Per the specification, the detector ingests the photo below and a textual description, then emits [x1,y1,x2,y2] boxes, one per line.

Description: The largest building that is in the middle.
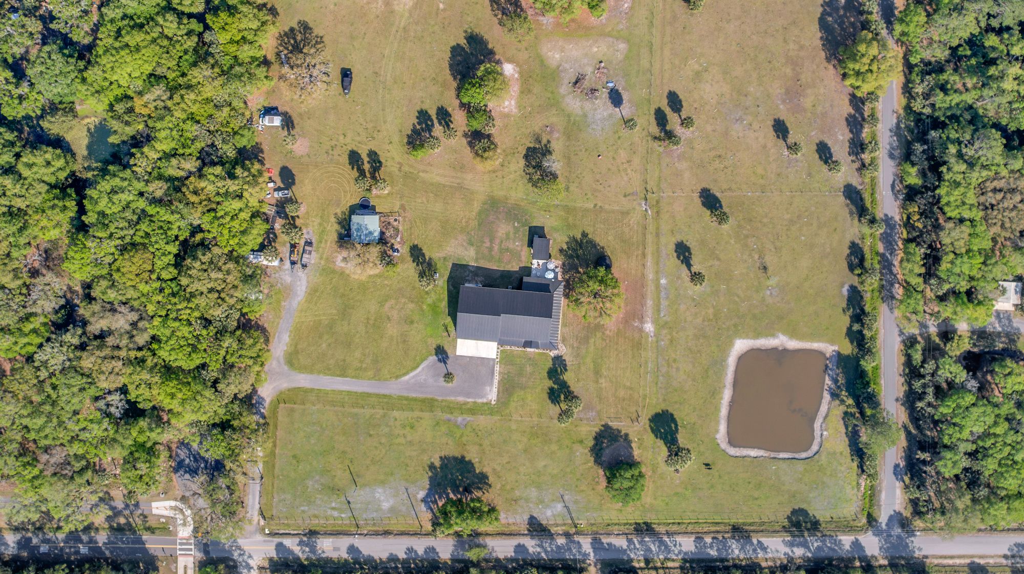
[456,277,564,351]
